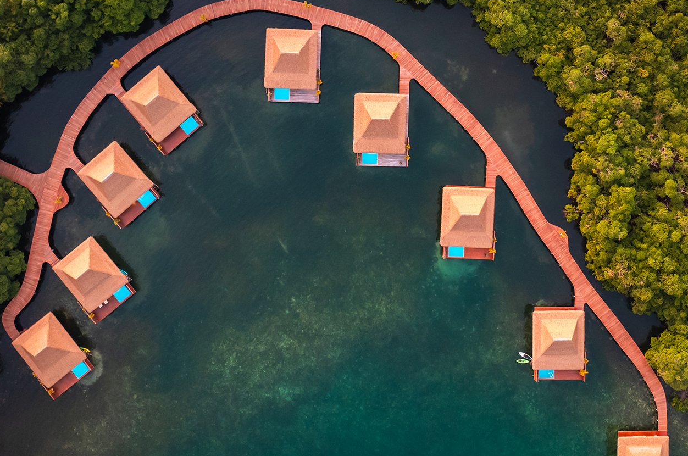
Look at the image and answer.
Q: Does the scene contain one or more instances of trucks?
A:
No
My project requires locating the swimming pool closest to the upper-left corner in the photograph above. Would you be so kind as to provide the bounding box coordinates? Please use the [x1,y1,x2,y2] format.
[179,117,199,135]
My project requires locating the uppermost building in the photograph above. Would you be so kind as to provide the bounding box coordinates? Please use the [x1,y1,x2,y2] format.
[263,29,322,104]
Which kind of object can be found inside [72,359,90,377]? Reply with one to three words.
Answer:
swimming pool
